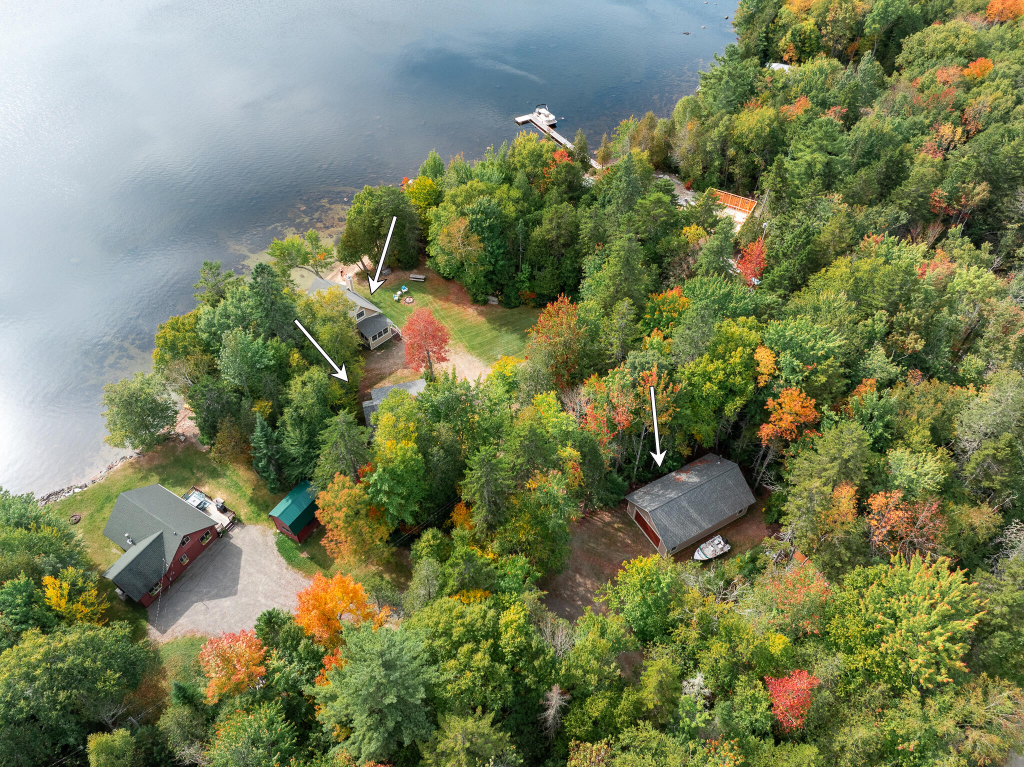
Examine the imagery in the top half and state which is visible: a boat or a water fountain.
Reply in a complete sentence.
The feature located in the top half is a boat.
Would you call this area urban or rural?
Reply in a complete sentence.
From above, the setting appears rural.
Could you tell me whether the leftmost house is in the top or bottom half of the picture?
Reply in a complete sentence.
The bottom half of the photo is where the leftmost house is.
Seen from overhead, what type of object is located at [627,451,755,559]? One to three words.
barn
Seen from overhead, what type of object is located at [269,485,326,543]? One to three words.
shed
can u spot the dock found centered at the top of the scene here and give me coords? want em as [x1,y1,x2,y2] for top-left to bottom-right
[515,114,577,153]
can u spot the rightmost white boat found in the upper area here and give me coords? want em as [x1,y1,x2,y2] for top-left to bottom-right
[535,103,561,128]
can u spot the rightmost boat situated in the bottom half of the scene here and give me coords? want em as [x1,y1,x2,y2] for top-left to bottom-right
[694,535,730,559]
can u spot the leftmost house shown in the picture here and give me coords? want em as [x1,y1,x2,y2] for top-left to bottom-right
[100,482,236,606]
